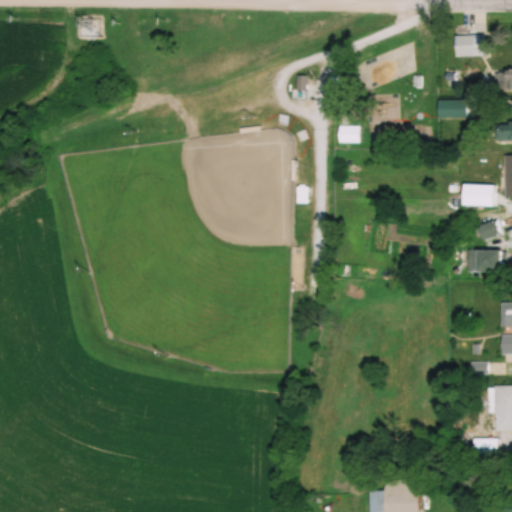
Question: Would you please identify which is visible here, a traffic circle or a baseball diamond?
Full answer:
The image shows a baseball diamond.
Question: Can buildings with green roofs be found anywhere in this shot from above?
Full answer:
Yes, a building with a green roof is visible in the scene.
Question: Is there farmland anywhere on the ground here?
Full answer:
Yes, the picture does contain farmland.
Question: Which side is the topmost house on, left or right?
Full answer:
You can find the topmost house on the right side of the picture.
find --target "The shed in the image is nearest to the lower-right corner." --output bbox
[472,438,500,450]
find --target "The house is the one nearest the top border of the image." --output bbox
[452,35,480,58]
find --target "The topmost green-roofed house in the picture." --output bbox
[436,100,468,118]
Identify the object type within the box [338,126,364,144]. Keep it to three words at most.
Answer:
building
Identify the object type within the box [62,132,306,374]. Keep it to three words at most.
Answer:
baseball field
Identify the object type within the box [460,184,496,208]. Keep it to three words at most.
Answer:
building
